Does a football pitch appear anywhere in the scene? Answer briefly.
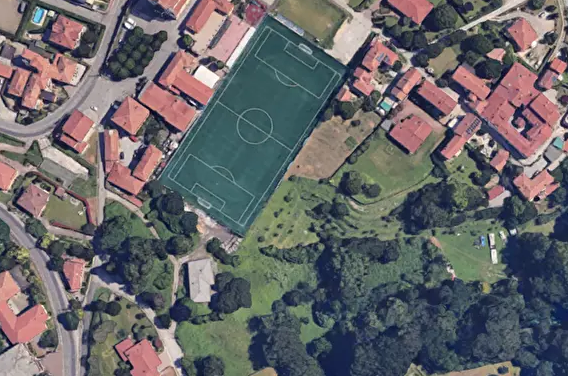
Yes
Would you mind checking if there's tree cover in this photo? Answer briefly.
Yes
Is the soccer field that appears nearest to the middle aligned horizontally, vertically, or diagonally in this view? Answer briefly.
diagonally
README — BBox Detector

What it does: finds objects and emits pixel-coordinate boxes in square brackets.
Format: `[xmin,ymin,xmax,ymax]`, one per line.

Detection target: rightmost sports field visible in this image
[276,0,352,48]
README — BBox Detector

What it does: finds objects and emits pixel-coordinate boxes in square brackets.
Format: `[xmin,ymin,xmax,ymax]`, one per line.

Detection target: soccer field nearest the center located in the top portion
[161,19,349,233]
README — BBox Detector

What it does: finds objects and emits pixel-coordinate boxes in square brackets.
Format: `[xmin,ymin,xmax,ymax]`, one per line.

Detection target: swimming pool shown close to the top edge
[31,8,46,25]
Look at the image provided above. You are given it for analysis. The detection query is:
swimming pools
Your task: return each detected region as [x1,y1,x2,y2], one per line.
[31,8,46,25]
[380,99,393,112]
